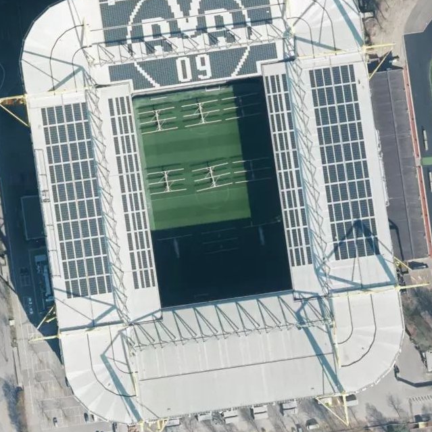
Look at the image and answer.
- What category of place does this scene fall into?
sports ground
